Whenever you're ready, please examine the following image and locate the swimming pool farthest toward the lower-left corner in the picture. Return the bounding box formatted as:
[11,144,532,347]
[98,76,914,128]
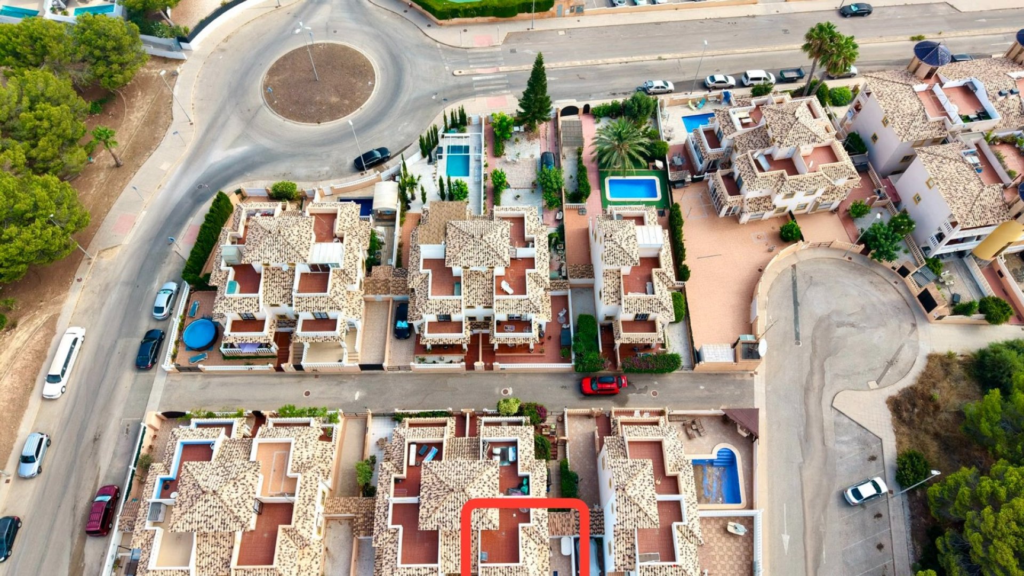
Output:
[176,315,222,356]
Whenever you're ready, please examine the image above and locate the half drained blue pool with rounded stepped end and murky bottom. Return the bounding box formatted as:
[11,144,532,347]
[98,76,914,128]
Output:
[691,442,747,510]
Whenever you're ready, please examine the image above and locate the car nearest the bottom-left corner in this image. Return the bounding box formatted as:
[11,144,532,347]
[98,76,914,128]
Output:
[0,516,26,563]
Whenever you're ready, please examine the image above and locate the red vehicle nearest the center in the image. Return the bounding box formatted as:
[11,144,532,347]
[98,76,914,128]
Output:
[578,374,633,400]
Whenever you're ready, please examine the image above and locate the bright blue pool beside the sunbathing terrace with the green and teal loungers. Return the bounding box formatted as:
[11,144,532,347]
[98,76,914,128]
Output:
[680,112,711,142]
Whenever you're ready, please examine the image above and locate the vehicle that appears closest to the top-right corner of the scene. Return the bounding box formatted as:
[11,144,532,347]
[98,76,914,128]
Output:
[952,48,982,66]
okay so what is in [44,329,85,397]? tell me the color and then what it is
white car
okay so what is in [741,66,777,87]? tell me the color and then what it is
white car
